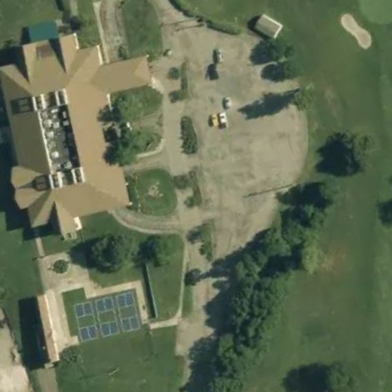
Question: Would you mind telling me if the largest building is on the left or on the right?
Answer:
left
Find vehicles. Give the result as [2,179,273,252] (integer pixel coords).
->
[210,66,216,80]
[220,113,226,128]
[216,48,223,62]
[225,96,230,110]
[211,113,218,127]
